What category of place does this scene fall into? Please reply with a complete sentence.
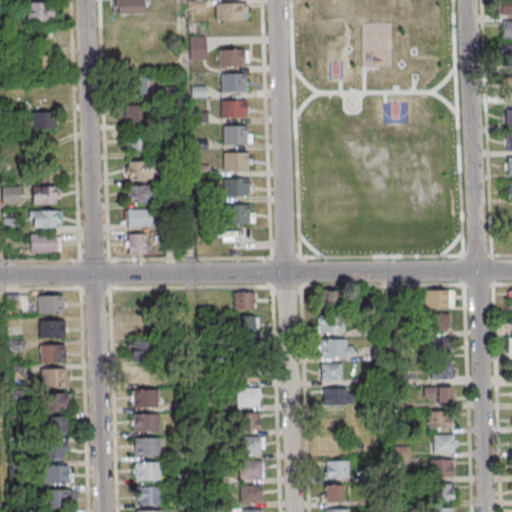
This looks like a residential area.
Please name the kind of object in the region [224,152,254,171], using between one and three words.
house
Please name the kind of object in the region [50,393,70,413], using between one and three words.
house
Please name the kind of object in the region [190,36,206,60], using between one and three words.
building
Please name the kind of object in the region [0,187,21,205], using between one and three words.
building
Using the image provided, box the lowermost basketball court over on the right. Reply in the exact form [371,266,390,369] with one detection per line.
[384,102,408,124]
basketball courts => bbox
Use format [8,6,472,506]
[329,60,343,79]
[384,102,408,124]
